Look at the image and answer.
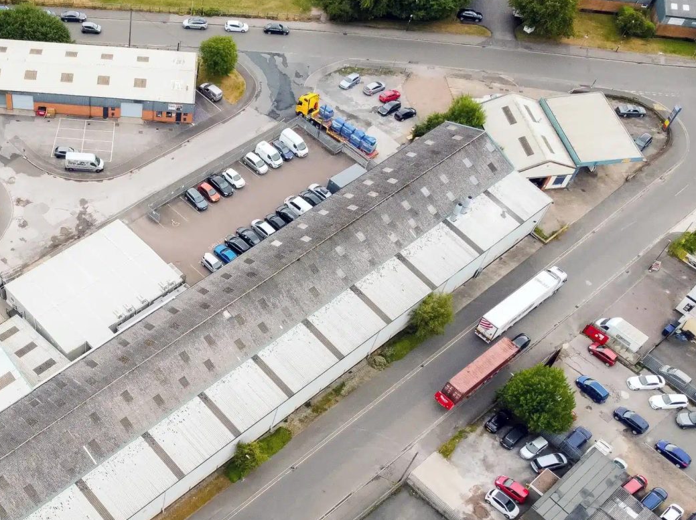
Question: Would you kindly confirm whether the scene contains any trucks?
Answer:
Yes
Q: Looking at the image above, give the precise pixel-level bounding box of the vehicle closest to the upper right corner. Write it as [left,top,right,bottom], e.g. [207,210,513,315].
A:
[615,105,645,119]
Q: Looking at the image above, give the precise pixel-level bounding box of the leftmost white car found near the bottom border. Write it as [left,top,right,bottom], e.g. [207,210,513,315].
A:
[484,492,521,520]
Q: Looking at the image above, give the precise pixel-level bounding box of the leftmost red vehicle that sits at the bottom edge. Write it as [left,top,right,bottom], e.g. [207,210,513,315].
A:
[495,478,530,506]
